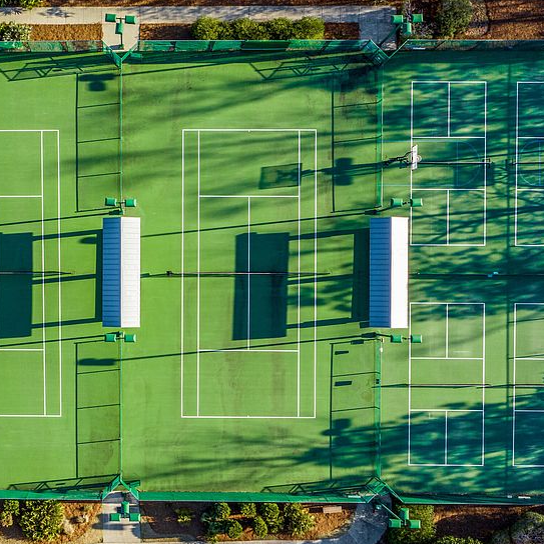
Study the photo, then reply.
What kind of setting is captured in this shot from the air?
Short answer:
sports ground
